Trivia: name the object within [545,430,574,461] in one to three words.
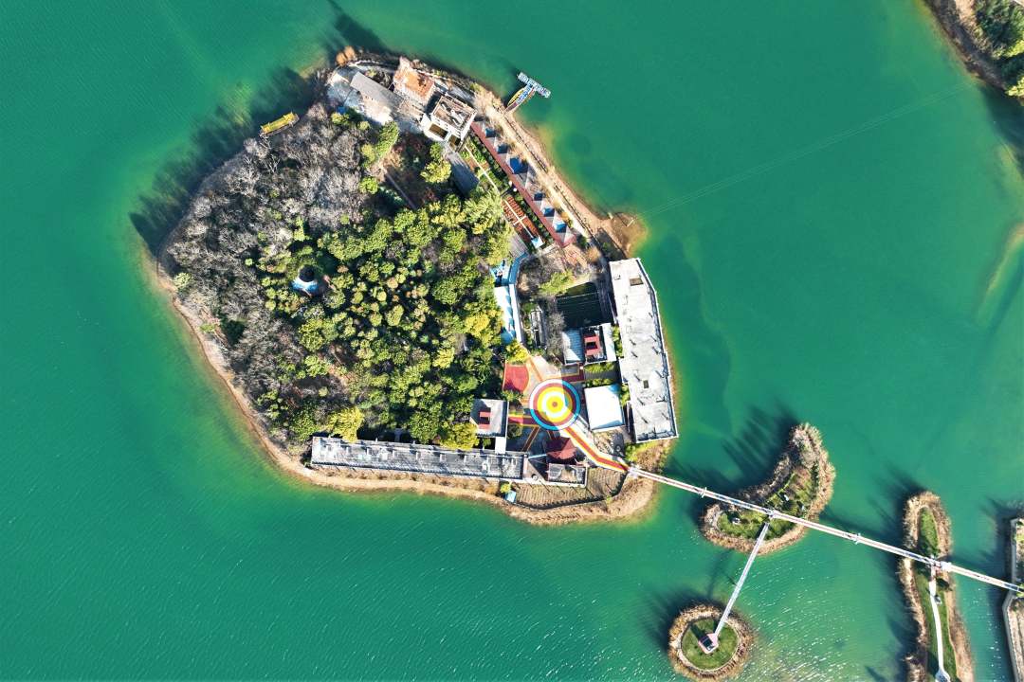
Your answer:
building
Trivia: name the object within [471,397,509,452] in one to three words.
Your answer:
house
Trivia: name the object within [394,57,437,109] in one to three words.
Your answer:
house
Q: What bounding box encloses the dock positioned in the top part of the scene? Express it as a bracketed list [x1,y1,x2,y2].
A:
[503,70,551,114]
